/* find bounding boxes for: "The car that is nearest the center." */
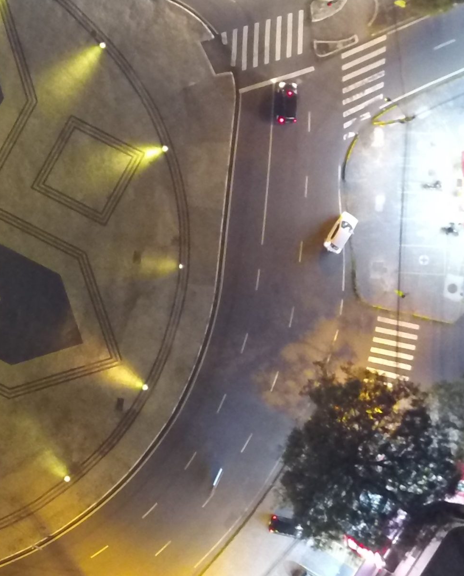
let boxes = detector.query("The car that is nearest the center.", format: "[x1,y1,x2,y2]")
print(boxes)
[323,212,355,254]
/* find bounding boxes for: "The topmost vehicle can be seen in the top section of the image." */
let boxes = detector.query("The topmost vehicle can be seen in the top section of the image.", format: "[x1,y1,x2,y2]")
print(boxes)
[273,81,299,126]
